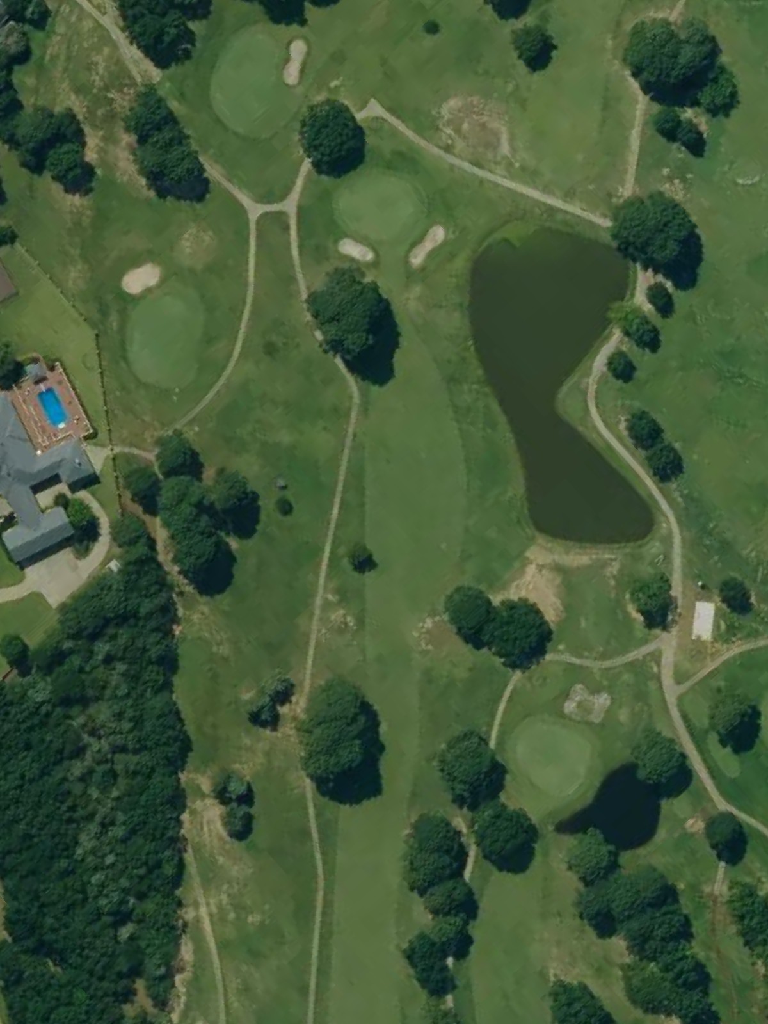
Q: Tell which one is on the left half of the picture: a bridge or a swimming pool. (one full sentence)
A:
What appears on the left half of the picture is a swimming pool.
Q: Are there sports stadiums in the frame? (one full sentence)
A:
No, the photo shows no sports stadium.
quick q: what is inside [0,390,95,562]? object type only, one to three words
house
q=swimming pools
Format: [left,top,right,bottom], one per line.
[34,385,69,429]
